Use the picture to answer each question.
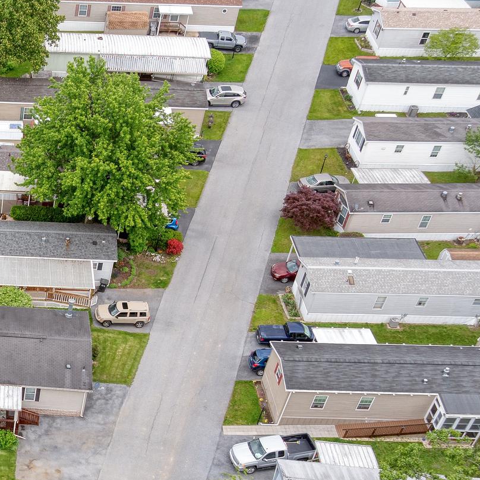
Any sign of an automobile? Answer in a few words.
Yes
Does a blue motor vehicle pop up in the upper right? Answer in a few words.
No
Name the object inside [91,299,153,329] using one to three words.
car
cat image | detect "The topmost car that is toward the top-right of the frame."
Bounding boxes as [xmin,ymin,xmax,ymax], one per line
[340,14,371,33]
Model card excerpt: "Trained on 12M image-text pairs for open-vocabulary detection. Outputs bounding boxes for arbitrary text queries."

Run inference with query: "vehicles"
[196,29,251,53]
[223,431,318,473]
[329,53,383,78]
[340,14,371,33]
[246,317,322,345]
[259,258,299,284]
[91,299,153,329]
[206,83,248,108]
[182,145,214,170]
[163,214,183,236]
[236,343,272,375]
